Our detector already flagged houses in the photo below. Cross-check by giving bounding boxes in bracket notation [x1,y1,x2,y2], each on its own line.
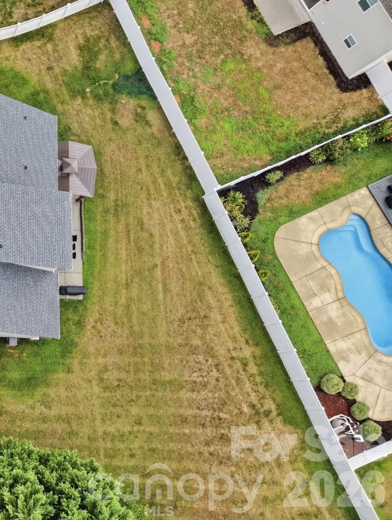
[0,95,75,339]
[301,0,392,79]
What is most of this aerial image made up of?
grass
